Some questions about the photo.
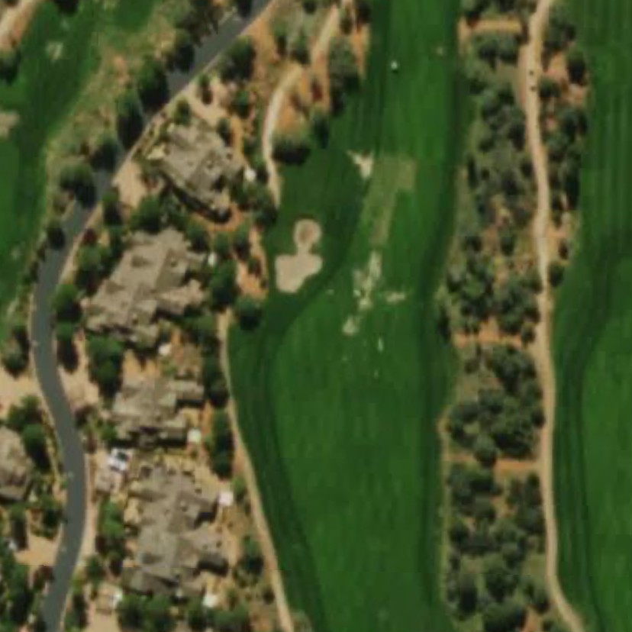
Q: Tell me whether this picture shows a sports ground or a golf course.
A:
golf course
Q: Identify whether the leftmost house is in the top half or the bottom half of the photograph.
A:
bottom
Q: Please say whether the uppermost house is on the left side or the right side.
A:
left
